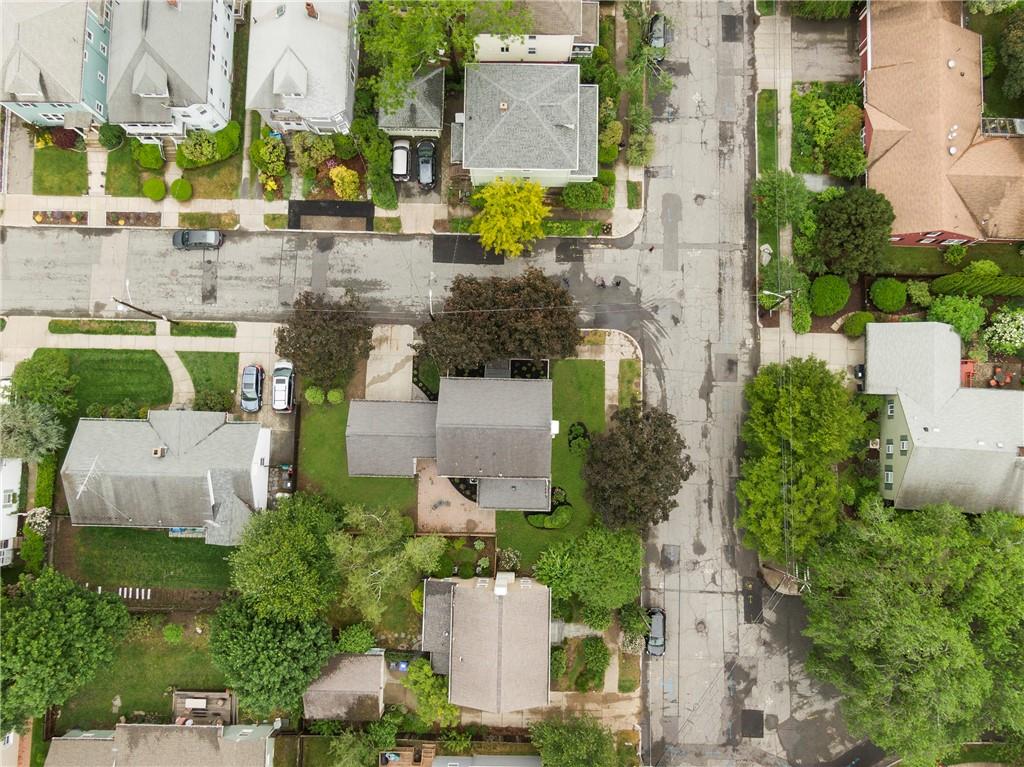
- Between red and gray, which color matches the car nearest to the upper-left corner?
gray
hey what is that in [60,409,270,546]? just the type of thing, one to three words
house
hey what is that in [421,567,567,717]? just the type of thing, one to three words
house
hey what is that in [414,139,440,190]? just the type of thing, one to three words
car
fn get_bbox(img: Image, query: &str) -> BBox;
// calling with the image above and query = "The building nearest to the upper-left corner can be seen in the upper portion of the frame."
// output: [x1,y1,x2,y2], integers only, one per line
[0,0,112,150]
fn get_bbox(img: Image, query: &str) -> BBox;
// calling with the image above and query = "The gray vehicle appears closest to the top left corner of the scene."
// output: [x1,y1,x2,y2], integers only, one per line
[174,226,225,251]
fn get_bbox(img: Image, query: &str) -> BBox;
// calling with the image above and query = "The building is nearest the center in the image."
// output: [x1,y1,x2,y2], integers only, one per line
[345,354,560,512]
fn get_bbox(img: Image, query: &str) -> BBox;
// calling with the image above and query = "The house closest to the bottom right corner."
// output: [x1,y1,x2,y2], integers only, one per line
[862,322,1024,510]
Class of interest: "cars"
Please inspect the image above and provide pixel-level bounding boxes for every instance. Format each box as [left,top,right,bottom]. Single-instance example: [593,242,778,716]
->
[414,139,440,190]
[645,606,669,658]
[646,12,670,62]
[174,226,225,251]
[270,360,296,413]
[238,363,266,413]
[392,140,412,183]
